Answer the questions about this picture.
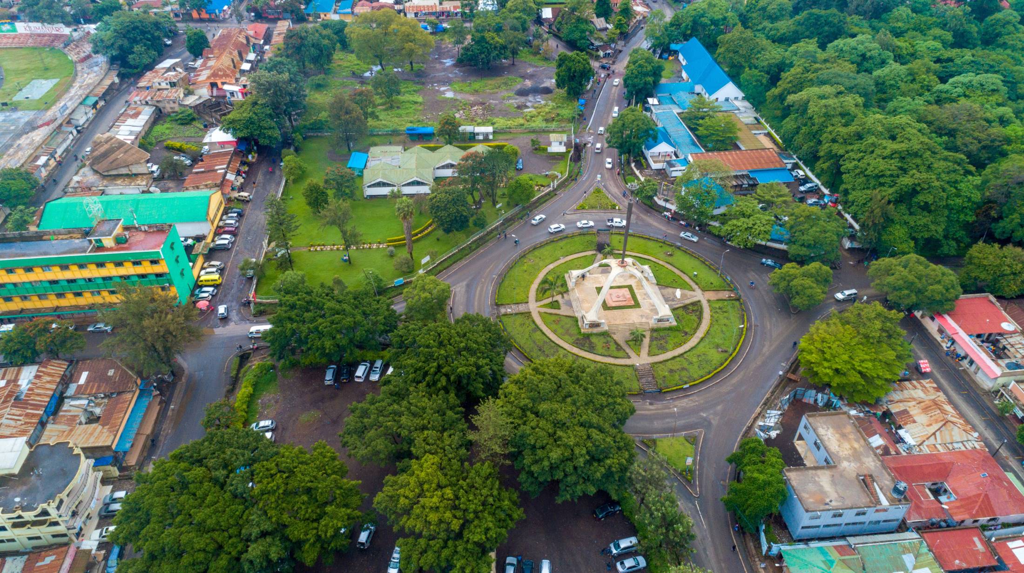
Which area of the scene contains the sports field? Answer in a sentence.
Look in the top left portion of the view to spot the sports field.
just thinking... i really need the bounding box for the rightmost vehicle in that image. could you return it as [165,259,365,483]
[913,358,935,375]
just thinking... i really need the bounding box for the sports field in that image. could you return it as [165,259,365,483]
[0,45,74,110]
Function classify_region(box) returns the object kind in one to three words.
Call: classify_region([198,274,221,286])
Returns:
vehicle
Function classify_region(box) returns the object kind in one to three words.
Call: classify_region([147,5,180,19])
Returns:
building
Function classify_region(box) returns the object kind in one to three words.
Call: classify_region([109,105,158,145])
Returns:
shed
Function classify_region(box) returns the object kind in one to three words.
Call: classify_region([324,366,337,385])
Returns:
vehicle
